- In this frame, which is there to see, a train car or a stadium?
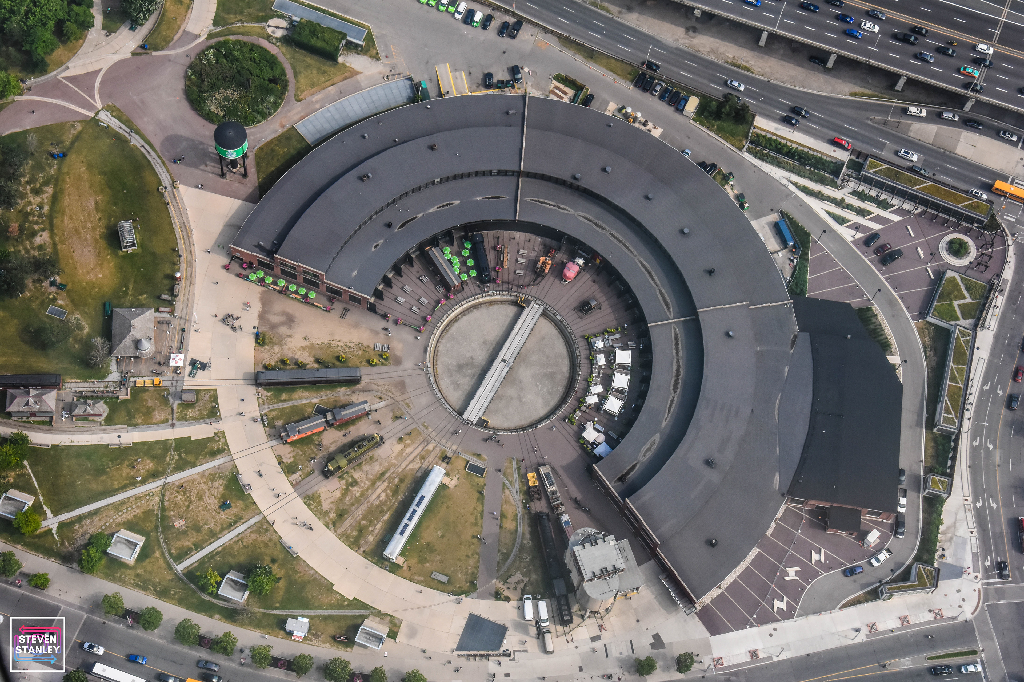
train car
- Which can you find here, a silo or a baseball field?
silo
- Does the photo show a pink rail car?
Yes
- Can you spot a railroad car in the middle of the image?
Yes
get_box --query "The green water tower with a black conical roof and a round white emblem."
[213,120,248,177]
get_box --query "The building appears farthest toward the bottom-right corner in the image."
[879,563,939,599]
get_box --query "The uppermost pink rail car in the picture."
[562,257,582,284]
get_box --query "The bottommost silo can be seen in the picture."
[566,546,616,616]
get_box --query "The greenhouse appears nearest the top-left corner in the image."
[118,218,136,251]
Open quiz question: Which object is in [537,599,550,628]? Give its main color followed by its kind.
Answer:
white vehicle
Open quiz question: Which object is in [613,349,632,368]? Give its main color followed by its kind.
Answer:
white umbrella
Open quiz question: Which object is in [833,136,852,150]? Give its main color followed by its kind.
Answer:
red car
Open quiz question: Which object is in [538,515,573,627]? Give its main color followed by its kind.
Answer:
black rail car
